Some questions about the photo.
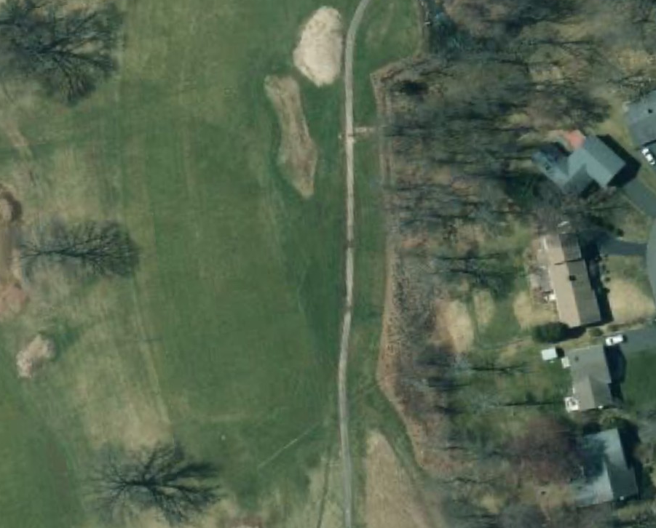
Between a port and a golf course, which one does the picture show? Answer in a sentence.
The picture captures a golf course.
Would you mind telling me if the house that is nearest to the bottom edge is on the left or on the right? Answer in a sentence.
The house that is nearest to the bottom edge sits on the right side.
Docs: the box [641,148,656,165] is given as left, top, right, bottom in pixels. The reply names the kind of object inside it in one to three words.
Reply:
car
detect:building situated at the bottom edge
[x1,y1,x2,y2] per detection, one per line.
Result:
[580,429,646,505]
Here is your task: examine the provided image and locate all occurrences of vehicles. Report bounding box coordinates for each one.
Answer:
[641,148,656,165]
[606,335,624,344]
